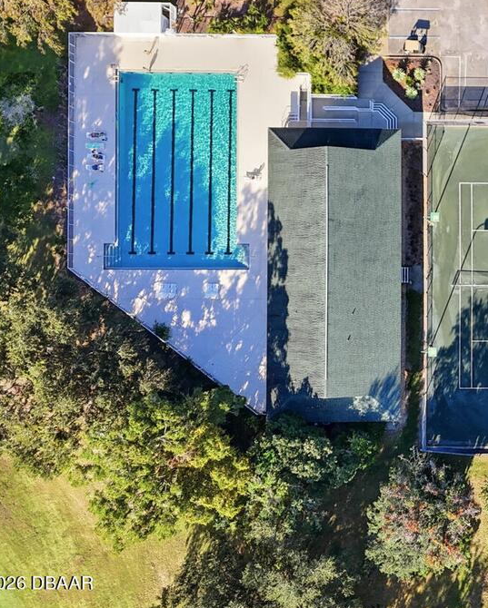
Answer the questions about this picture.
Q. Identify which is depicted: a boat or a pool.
pool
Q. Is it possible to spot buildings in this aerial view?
Yes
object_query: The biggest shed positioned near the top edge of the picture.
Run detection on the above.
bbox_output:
[113,1,183,37]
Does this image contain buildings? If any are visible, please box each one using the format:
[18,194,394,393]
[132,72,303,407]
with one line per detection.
[113,1,183,37]
[270,128,402,423]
